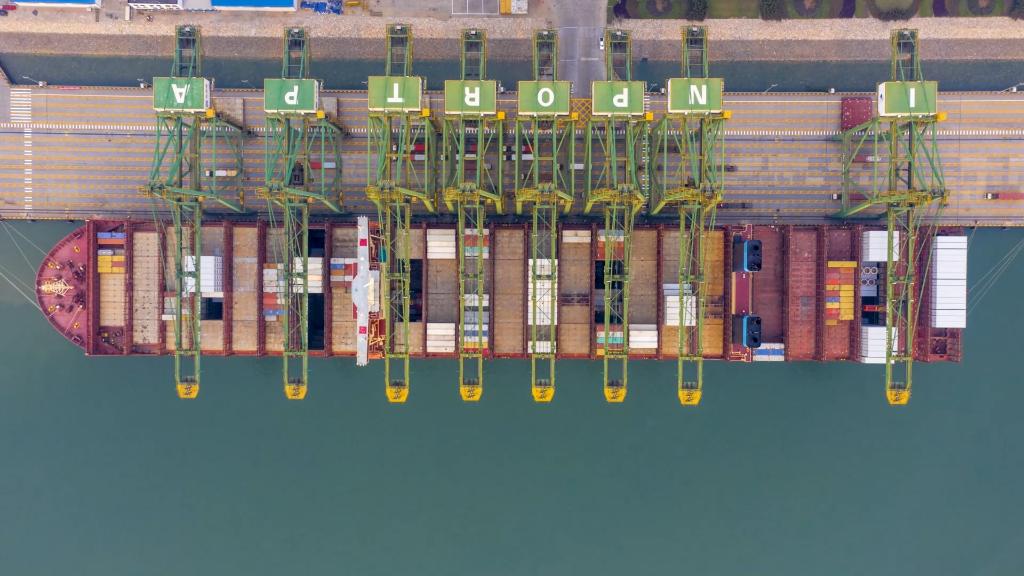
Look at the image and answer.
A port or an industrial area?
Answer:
port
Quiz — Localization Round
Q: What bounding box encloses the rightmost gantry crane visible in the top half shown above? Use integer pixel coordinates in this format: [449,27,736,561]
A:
[829,29,948,404]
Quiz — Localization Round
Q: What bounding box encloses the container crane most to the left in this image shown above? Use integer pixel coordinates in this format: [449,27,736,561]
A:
[144,25,257,399]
